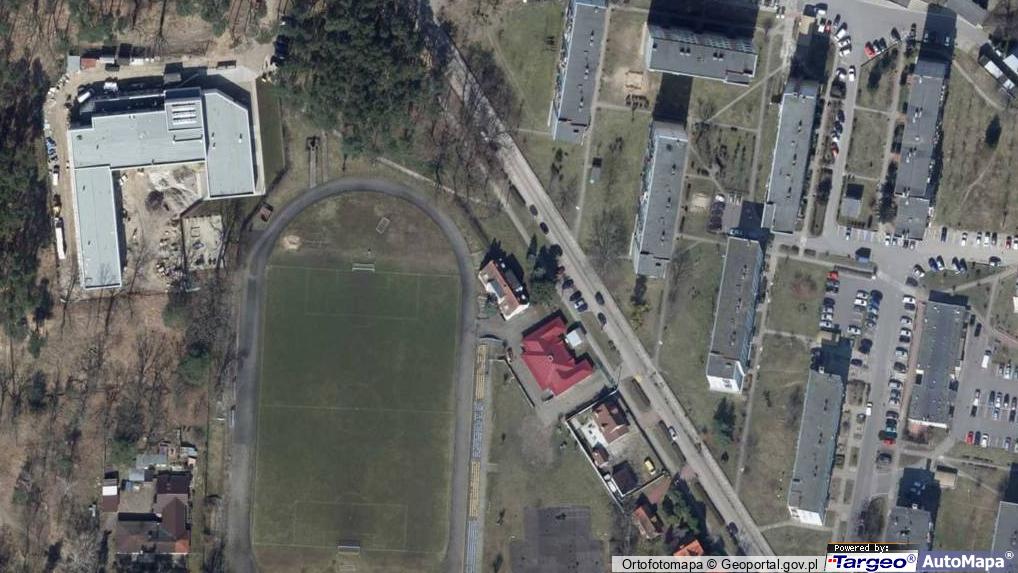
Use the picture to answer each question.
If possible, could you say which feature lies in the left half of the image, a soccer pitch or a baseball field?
soccer pitch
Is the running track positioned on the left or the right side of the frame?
left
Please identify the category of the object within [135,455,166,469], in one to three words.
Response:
shed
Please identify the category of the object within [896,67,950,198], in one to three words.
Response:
building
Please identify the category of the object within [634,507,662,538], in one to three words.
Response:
house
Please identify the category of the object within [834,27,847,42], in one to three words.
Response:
vehicle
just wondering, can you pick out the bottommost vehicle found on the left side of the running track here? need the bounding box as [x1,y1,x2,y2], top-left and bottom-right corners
[54,220,68,262]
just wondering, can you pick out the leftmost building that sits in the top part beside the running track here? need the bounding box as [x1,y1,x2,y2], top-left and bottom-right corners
[67,87,254,288]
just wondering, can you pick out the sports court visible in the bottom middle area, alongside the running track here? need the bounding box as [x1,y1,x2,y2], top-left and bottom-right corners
[509,506,605,573]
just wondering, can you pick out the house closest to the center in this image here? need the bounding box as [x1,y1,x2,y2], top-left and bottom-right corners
[479,263,530,318]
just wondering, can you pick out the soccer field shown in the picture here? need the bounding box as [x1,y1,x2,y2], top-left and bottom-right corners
[253,266,459,553]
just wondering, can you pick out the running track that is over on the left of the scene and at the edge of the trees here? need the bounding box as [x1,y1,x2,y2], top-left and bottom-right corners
[224,177,477,573]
